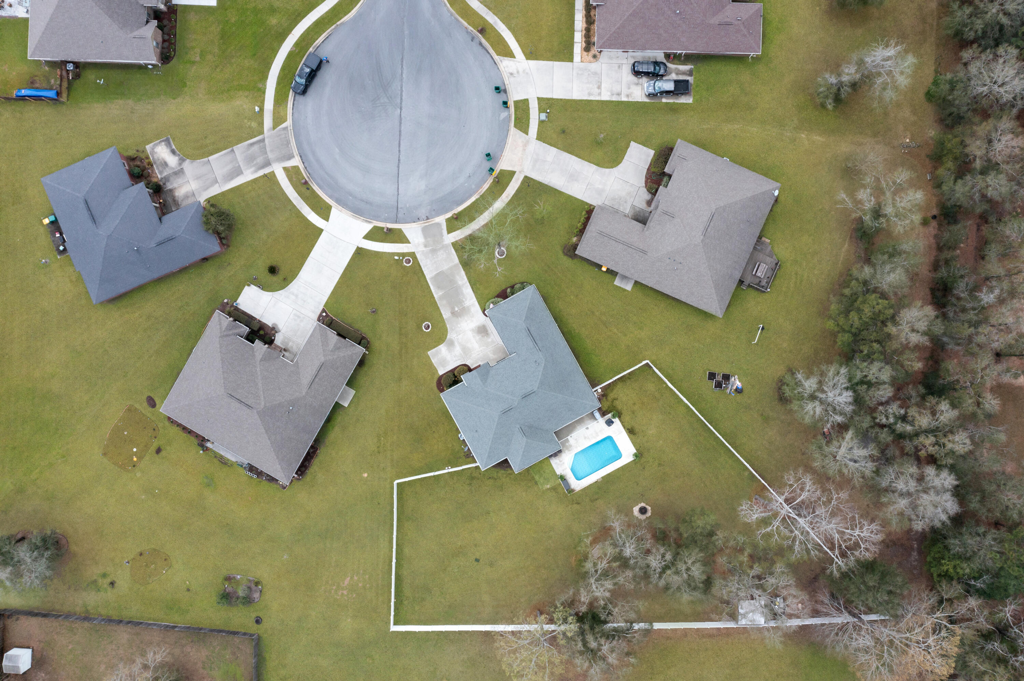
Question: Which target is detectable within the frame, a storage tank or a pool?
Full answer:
I can see a pool in this picture.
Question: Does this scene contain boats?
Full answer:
No, I can see no boat in this picture.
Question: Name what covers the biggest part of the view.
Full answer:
For the most part, this view shows grass.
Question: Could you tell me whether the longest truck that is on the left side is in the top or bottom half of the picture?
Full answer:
The longest truck that is on the left side sits in the top half of the picture.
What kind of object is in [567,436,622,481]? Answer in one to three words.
swimming pool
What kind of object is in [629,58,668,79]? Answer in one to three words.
car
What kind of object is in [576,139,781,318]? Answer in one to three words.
house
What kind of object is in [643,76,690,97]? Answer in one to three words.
truck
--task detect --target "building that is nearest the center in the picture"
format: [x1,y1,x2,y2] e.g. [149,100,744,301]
[439,284,601,474]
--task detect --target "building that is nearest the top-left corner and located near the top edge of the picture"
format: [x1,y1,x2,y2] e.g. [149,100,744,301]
[27,0,166,70]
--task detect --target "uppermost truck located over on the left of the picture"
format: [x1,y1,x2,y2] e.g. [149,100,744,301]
[291,51,324,96]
